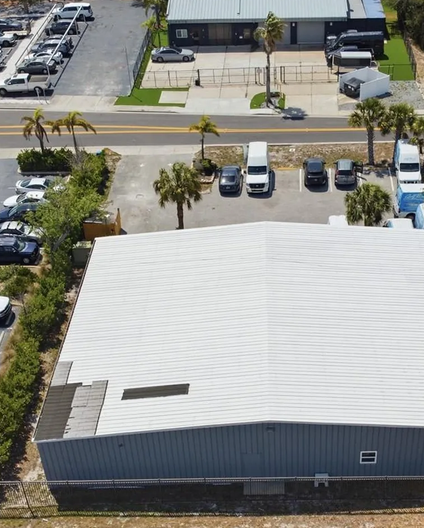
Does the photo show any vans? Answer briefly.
Yes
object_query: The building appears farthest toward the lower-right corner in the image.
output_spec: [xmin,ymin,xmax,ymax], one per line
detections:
[27,222,424,487]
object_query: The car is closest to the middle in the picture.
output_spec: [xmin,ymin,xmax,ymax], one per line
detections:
[214,162,239,190]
